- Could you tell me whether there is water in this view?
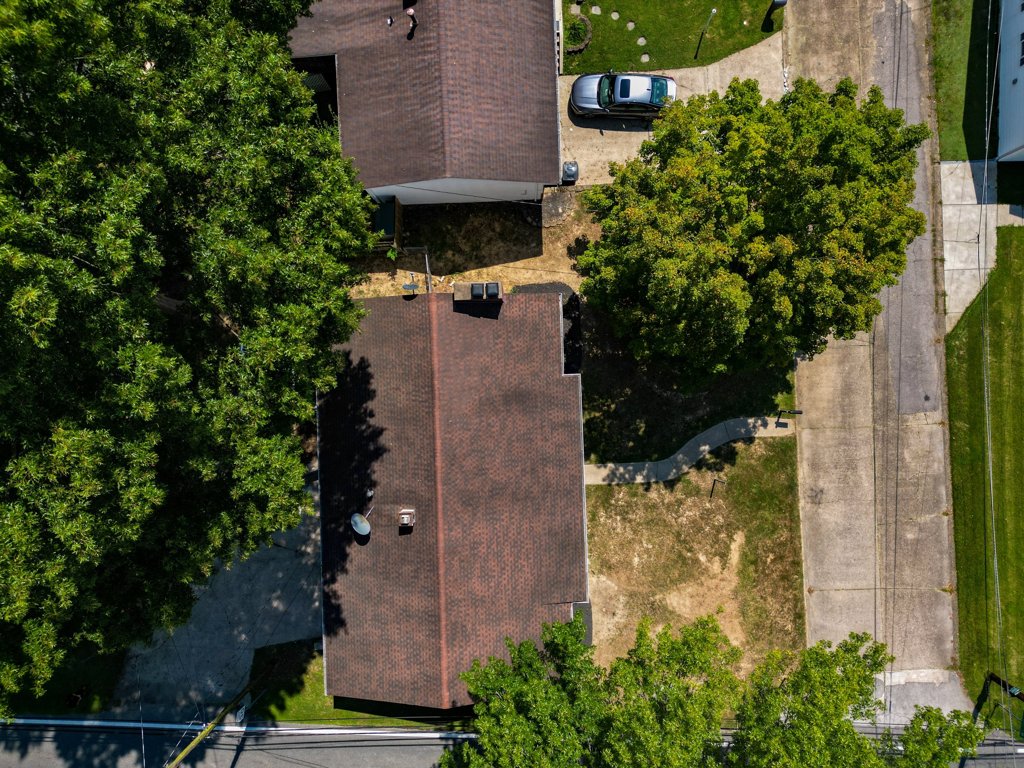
No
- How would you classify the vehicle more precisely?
automobile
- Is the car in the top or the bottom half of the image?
top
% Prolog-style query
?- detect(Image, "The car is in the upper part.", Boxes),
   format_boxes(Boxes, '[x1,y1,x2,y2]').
[570,65,678,122]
